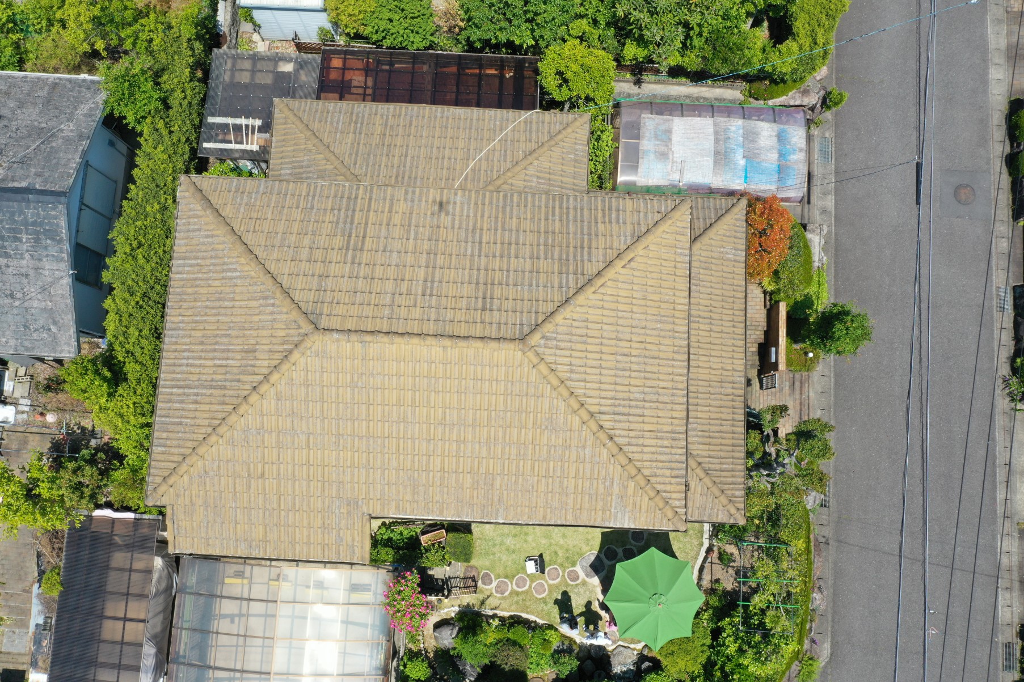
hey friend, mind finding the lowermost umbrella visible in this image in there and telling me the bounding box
[604,547,705,650]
